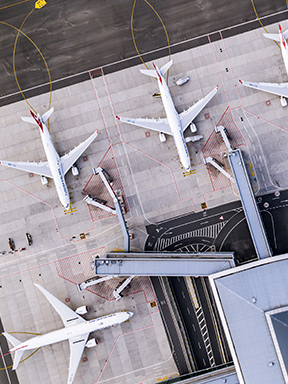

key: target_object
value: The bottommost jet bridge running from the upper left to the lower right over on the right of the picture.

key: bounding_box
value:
[205,156,237,184]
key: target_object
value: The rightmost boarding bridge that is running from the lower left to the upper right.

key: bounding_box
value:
[114,275,140,300]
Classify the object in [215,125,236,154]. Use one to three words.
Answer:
jet bridge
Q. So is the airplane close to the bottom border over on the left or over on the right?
left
